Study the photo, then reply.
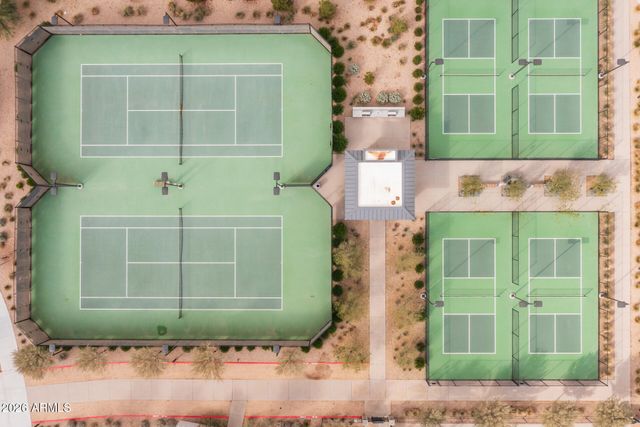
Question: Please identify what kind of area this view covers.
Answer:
sports ground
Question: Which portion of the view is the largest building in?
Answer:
center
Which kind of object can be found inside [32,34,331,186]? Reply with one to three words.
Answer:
tennis court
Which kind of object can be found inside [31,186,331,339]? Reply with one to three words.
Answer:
tennis court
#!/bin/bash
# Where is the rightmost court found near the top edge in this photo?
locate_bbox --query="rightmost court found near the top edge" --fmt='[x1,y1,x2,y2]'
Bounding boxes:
[513,0,599,159]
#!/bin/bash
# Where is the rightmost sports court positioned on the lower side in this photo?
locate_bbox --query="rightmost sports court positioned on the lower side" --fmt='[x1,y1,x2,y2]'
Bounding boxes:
[513,212,599,380]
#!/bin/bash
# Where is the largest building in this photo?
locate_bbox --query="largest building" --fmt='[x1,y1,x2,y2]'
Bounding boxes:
[344,150,416,221]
